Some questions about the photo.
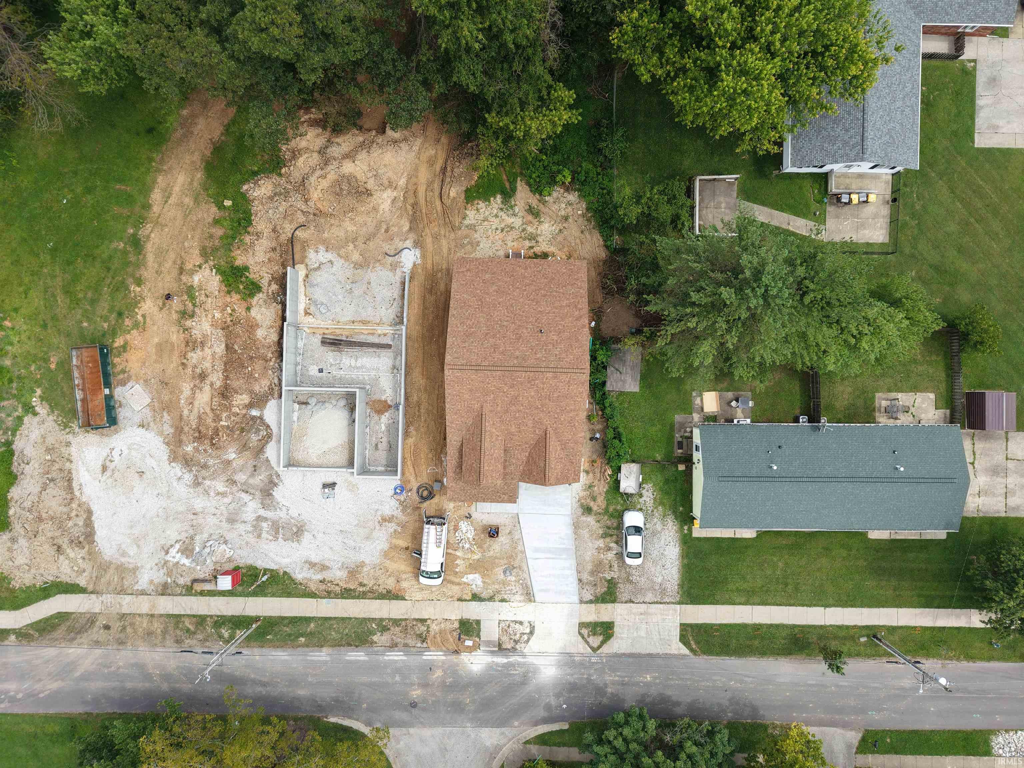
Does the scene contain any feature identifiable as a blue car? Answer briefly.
No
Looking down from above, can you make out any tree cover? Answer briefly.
Yes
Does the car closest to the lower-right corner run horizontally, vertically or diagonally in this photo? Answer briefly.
vertically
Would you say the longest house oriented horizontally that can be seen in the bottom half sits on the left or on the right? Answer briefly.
right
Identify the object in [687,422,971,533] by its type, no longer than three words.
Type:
house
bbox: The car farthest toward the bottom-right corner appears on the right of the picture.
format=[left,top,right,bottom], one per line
[621,508,647,566]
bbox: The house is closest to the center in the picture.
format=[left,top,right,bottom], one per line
[444,248,589,504]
